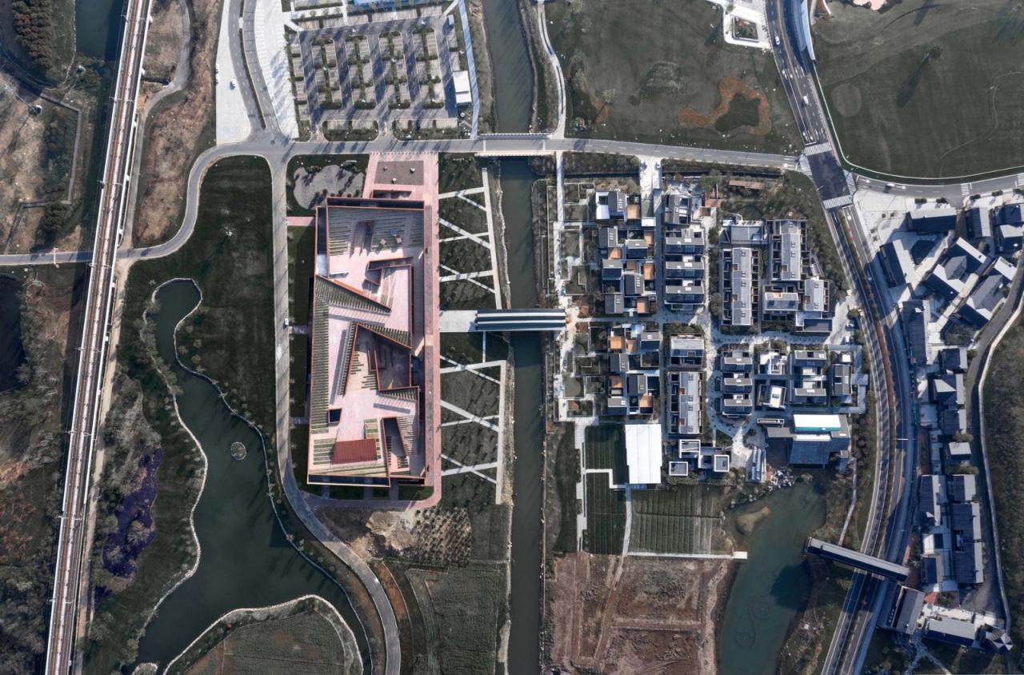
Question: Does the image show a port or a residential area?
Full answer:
This looks like a residential area.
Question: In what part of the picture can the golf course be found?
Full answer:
You can find the golf course in the top right area of the picture.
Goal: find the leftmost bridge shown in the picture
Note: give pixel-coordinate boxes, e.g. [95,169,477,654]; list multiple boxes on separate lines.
[43,0,155,675]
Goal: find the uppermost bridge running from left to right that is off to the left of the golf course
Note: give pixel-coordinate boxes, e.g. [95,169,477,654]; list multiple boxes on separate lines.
[477,132,553,157]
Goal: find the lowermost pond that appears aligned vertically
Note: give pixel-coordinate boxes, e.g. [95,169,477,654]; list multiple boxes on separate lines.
[720,480,826,675]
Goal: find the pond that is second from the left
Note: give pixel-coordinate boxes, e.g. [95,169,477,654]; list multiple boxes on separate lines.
[121,279,371,675]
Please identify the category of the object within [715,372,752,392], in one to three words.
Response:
house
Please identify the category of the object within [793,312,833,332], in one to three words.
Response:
building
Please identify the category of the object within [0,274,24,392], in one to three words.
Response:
pond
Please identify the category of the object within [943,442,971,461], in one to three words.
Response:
house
